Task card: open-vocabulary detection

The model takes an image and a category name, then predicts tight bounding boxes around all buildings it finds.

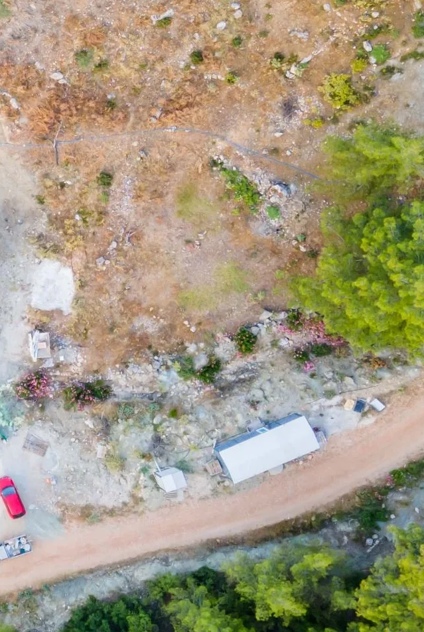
[210,414,318,484]
[157,465,187,493]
